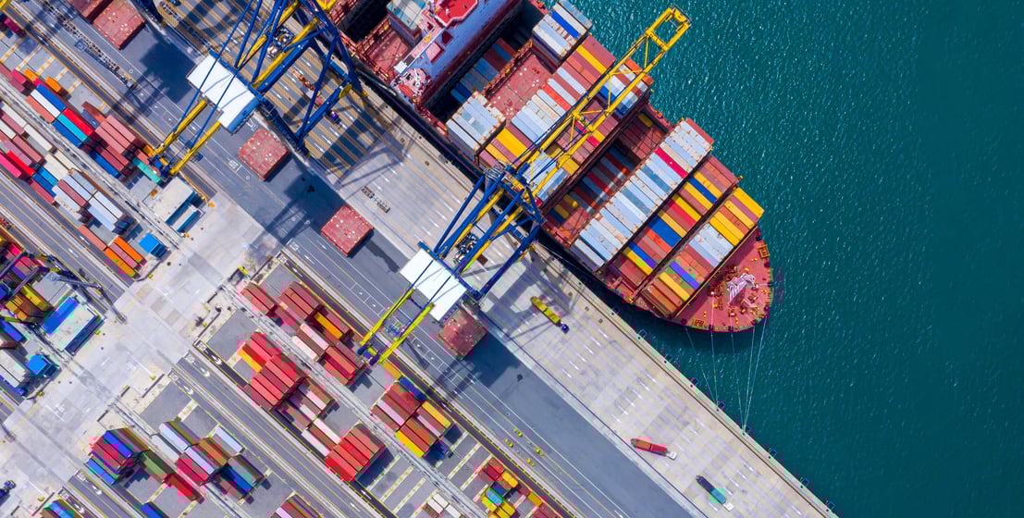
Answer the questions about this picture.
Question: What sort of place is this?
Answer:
port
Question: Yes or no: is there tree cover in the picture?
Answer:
No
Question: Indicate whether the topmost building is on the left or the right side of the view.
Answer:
left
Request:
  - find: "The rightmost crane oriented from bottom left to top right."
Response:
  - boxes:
[352,3,694,371]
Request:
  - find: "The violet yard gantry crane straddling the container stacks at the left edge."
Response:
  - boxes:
[0,250,89,335]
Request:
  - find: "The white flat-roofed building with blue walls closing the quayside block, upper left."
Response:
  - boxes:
[148,176,201,234]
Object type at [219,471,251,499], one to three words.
shipping container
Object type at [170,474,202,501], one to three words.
shipping container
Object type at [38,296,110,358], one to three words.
building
